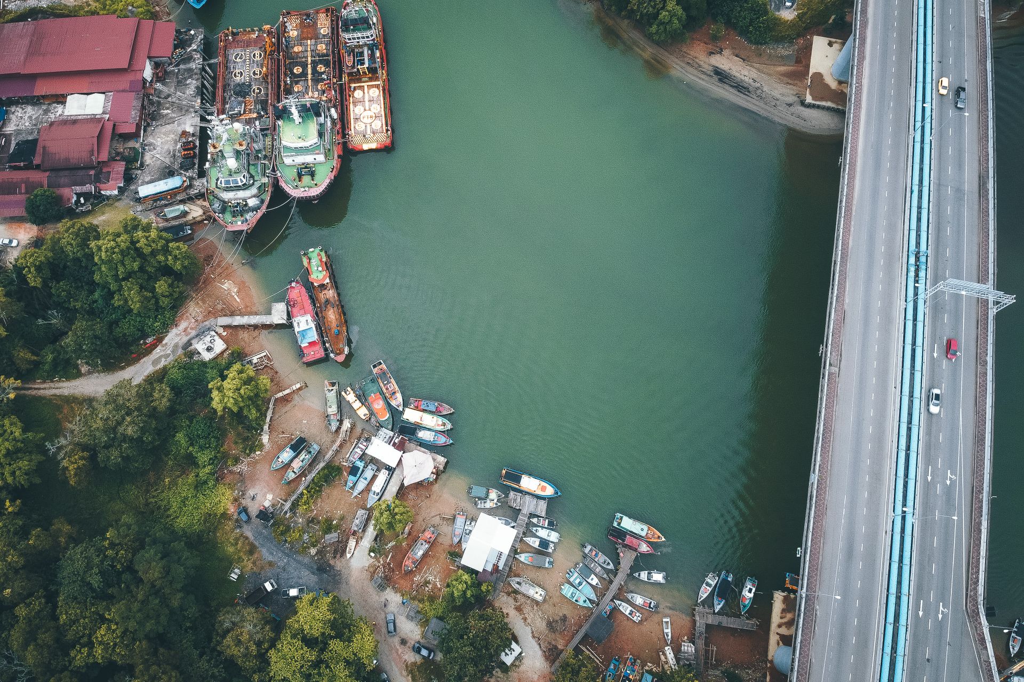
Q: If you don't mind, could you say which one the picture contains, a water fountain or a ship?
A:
ship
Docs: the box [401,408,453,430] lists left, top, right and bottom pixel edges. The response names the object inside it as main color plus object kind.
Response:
white boat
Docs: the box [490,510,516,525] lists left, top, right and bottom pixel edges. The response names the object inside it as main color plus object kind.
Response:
gray boat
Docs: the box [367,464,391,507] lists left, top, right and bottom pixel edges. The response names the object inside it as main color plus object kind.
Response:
white boat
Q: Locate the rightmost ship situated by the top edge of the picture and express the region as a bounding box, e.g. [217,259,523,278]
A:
[339,0,395,155]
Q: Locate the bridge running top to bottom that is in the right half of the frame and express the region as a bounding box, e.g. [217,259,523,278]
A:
[765,0,1000,682]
